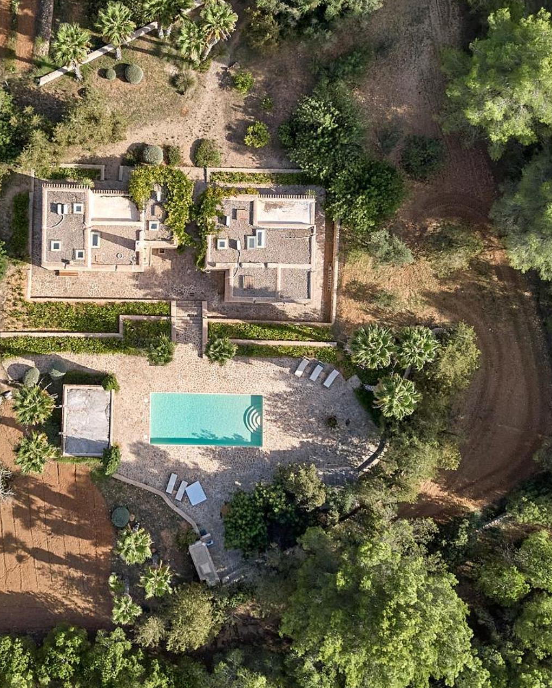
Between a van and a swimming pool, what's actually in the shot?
swimming pool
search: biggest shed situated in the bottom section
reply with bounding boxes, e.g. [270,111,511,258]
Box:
[57,384,113,455]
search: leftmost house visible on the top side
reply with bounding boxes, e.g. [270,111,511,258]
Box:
[42,183,178,274]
